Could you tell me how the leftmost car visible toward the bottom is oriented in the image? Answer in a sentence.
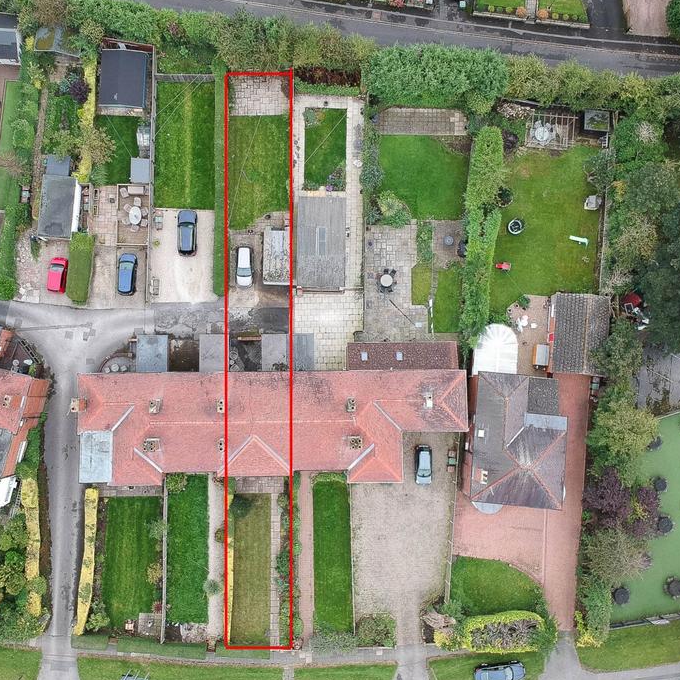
The leftmost car visible toward the bottom has been laid out up and down relative to the frame.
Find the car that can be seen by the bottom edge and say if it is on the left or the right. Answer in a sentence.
It is on the right.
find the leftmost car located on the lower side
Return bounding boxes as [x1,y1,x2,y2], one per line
[412,442,434,484]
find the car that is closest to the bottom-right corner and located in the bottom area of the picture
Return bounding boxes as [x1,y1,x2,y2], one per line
[472,658,523,680]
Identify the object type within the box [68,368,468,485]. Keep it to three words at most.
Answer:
house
